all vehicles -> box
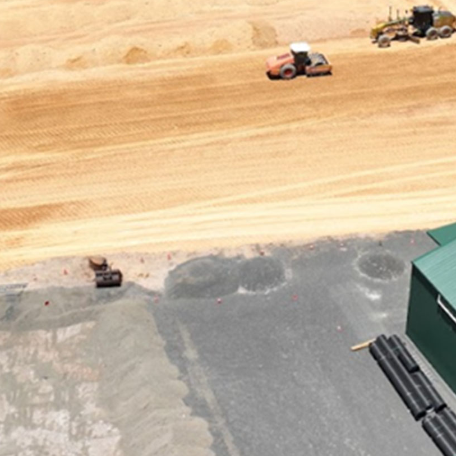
[368,0,456,46]
[268,36,335,79]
